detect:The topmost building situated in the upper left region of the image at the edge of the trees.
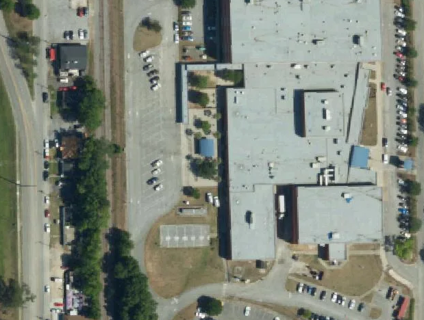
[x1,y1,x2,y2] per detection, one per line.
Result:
[57,45,87,70]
